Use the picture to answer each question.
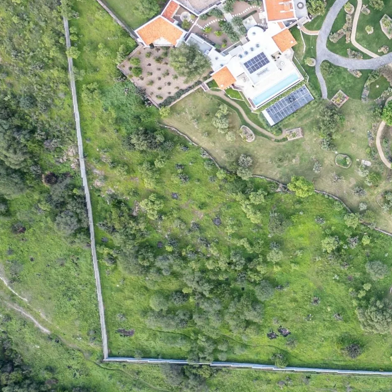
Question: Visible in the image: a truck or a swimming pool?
swimming pool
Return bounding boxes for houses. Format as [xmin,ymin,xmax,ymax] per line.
[133,15,190,48]
[208,21,299,90]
